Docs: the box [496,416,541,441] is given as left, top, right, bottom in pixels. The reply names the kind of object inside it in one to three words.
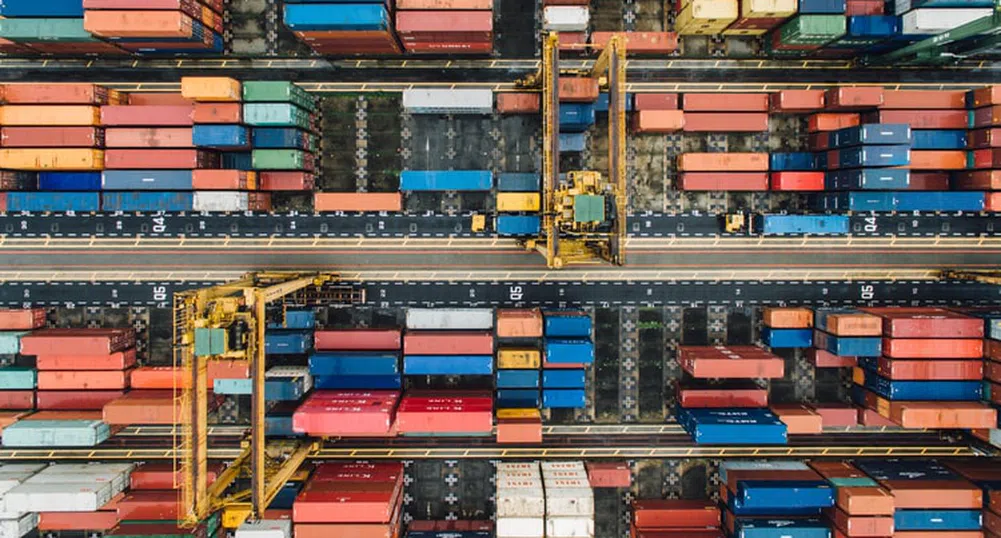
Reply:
shipping container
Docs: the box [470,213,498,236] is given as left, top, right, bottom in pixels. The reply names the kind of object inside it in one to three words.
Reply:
truck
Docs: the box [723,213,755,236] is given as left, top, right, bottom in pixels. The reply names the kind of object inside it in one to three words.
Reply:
truck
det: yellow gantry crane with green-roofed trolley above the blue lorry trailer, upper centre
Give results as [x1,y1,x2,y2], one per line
[518,28,630,269]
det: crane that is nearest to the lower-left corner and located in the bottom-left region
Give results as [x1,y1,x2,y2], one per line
[173,274,346,523]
